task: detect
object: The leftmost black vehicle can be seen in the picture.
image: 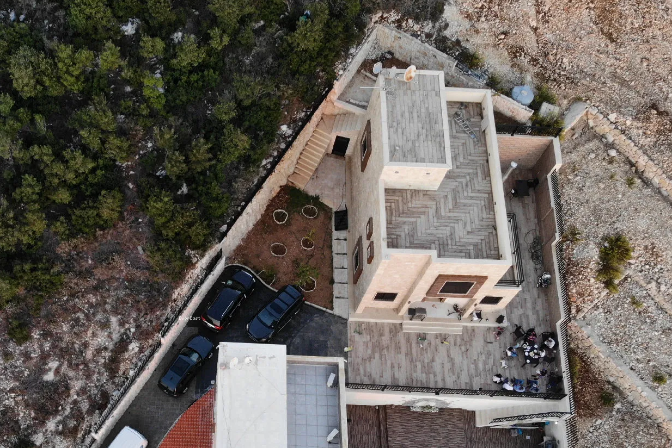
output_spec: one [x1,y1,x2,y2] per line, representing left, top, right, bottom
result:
[155,334,214,400]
